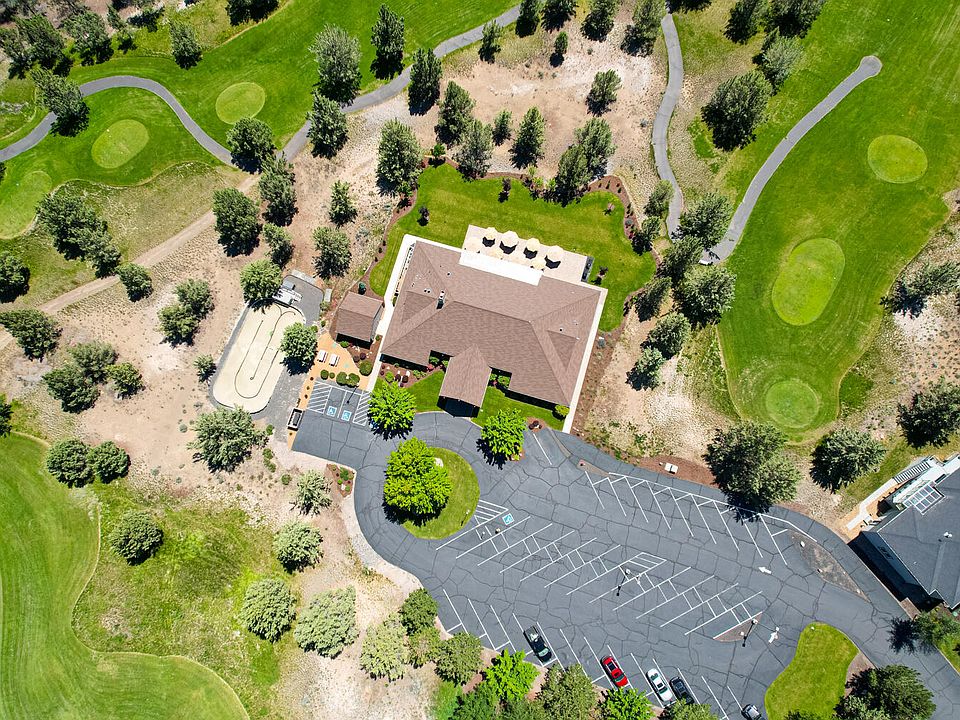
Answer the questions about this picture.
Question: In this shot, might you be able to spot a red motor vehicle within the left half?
No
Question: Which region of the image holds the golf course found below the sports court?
bottom left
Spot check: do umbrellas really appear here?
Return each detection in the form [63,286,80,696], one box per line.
[465,237,482,253]
[484,227,497,241]
[501,230,518,248]
[525,236,540,251]
[489,247,503,260]
[546,243,564,262]
[531,258,545,271]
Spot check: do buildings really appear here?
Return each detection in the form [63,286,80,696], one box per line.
[381,240,603,408]
[862,444,960,608]
[337,292,382,341]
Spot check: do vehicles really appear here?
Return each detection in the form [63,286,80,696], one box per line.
[743,702,765,720]
[670,675,695,707]
[647,668,673,702]
[522,624,551,663]
[602,654,627,686]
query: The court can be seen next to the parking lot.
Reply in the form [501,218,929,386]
[206,274,324,442]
